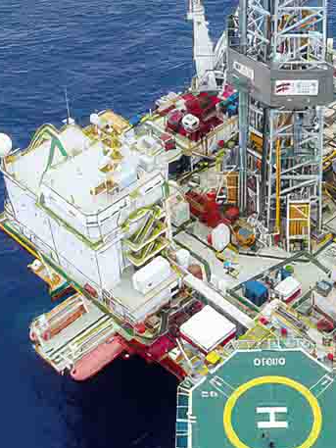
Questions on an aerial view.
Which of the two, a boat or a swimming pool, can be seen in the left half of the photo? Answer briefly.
boat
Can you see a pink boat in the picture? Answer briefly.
Yes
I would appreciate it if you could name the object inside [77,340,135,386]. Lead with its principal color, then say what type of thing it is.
pink boat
